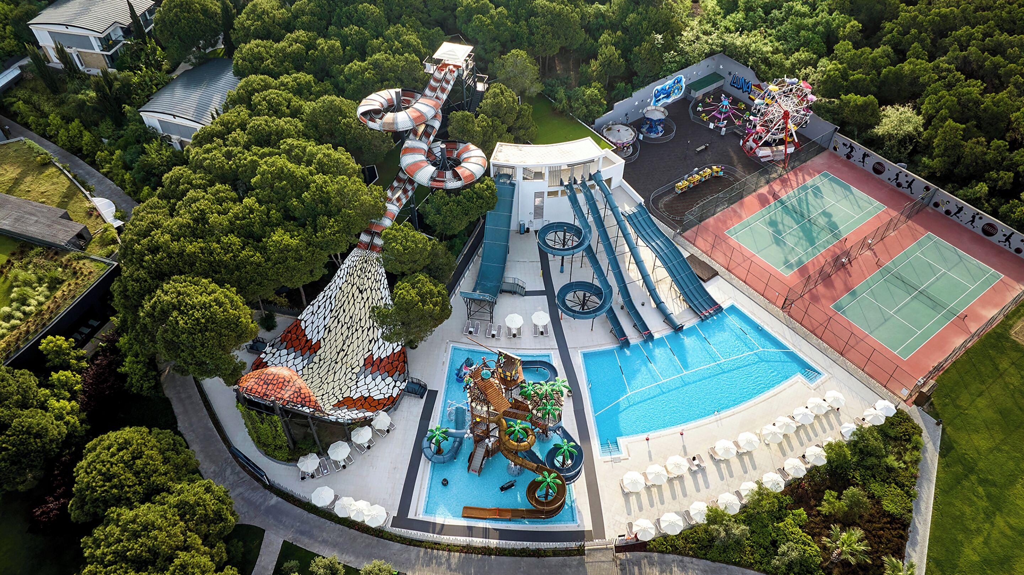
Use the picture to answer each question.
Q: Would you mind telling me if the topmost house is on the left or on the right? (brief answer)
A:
left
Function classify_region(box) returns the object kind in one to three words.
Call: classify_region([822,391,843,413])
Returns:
umbrella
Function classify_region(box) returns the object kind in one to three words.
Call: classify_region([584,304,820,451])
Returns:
swimming pool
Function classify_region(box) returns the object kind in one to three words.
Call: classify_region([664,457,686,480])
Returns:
umbrella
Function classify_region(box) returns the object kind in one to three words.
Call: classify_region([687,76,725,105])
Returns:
shed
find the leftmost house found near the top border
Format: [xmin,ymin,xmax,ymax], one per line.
[22,0,148,74]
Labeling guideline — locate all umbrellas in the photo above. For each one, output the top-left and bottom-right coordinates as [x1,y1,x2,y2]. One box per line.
[334,497,356,520]
[834,423,857,443]
[792,408,814,429]
[532,313,550,333]
[664,457,686,480]
[364,506,386,529]
[330,442,353,465]
[299,455,322,477]
[772,417,795,437]
[657,514,681,537]
[784,459,807,482]
[645,466,667,488]
[349,502,370,525]
[803,447,826,469]
[804,399,827,417]
[689,502,712,525]
[372,415,393,437]
[313,488,336,510]
[860,409,883,430]
[505,316,524,335]
[872,401,895,419]
[630,520,654,543]
[620,475,643,497]
[822,391,843,413]
[737,434,758,455]
[760,474,783,496]
[734,480,758,503]
[716,493,739,515]
[714,441,736,463]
